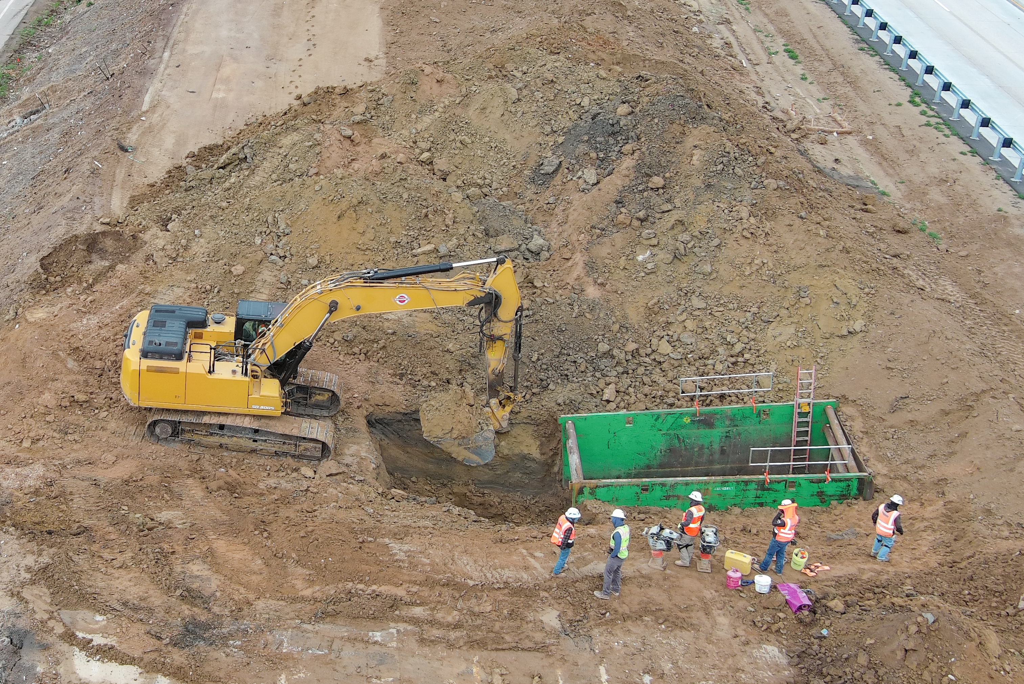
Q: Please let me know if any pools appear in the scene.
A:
No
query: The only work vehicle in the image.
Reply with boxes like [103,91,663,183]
[121,247,523,466]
